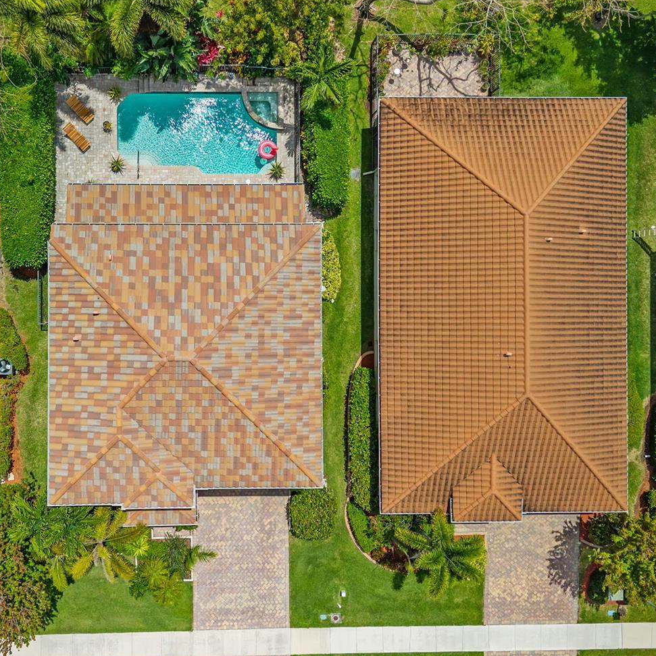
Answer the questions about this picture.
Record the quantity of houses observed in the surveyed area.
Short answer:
2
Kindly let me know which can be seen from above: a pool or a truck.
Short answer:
pool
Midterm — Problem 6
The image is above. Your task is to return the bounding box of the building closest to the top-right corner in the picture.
[351,95,630,524]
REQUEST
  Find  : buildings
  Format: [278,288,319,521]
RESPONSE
[45,181,326,527]
[351,95,630,524]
